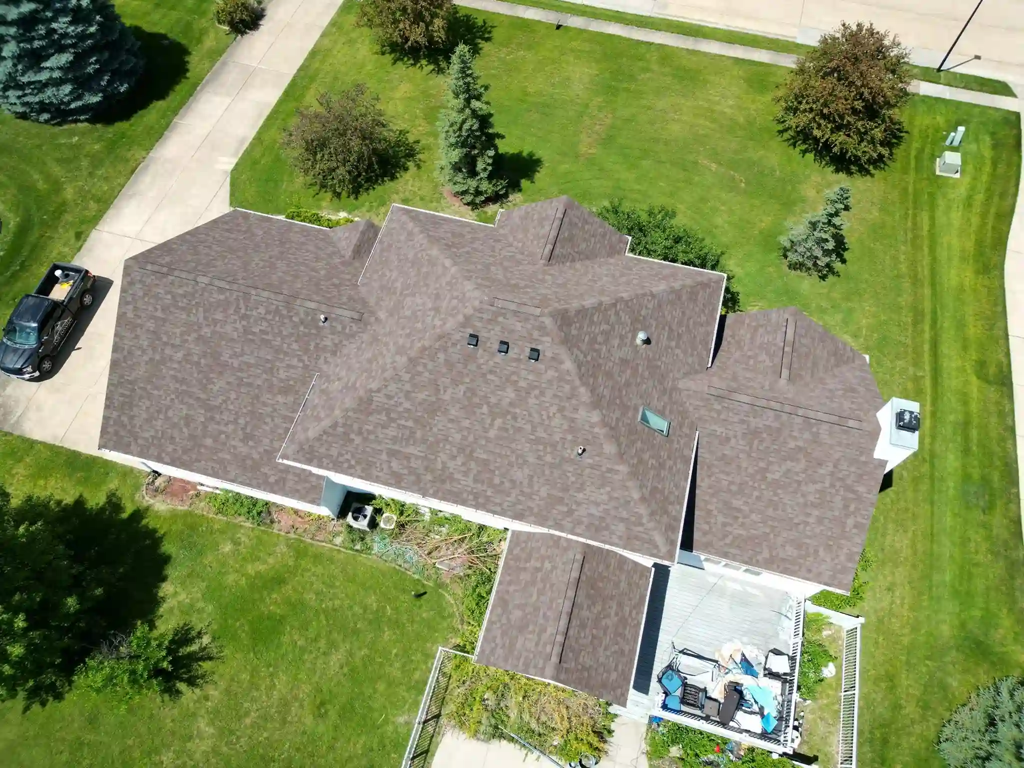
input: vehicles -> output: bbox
[0,260,102,382]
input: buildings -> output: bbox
[98,195,921,709]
